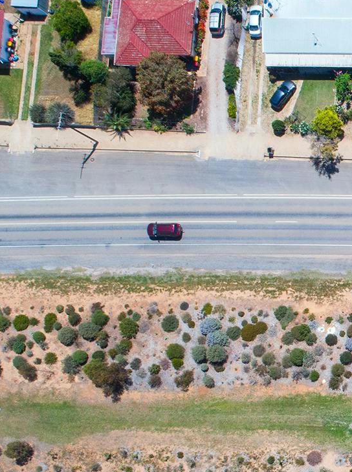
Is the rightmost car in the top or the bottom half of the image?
top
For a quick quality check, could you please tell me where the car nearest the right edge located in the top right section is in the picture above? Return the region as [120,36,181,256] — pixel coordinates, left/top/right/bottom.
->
[272,82,299,113]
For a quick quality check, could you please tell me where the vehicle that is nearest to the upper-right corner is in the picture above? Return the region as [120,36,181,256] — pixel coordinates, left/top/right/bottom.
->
[247,6,263,41]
